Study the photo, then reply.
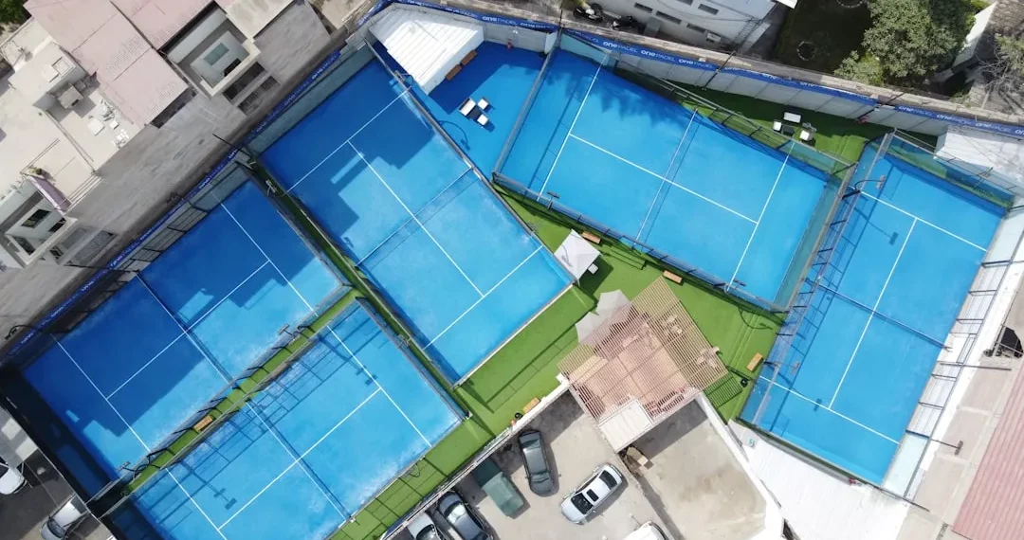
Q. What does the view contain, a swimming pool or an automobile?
automobile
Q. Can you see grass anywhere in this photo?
Yes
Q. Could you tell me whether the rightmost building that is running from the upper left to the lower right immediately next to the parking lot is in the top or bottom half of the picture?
bottom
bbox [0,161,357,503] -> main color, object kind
blue sports court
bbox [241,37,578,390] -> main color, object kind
blue sports court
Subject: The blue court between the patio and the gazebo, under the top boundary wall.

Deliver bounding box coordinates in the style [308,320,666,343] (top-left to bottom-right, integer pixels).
[491,37,856,315]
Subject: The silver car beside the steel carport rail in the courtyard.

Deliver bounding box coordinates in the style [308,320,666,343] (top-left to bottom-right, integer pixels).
[37,489,93,540]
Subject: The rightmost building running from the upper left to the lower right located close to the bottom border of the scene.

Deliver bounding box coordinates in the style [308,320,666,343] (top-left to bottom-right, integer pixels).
[733,422,901,540]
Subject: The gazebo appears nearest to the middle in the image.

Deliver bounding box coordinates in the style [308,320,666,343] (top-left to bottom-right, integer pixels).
[549,227,603,281]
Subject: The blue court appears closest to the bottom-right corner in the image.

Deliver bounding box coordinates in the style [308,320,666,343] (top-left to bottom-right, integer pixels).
[736,130,1024,499]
